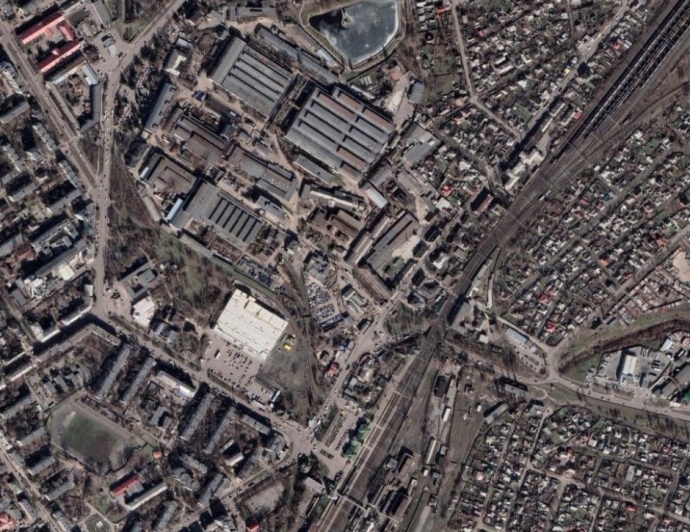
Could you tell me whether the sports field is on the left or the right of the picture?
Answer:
left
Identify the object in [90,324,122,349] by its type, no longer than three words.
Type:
building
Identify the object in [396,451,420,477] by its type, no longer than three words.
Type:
shed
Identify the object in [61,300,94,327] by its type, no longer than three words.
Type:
building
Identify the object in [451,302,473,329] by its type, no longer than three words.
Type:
shed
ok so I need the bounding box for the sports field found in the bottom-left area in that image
[58,411,119,461]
